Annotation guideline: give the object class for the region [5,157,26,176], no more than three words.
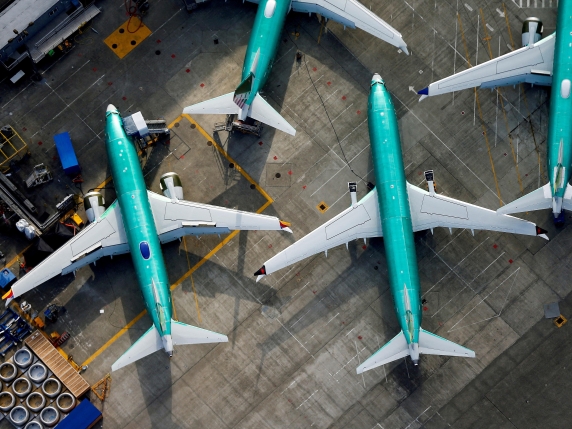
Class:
work vehicle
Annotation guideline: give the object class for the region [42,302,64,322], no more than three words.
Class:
work vehicle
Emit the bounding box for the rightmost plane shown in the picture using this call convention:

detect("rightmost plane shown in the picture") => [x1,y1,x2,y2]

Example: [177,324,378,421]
[419,0,572,230]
